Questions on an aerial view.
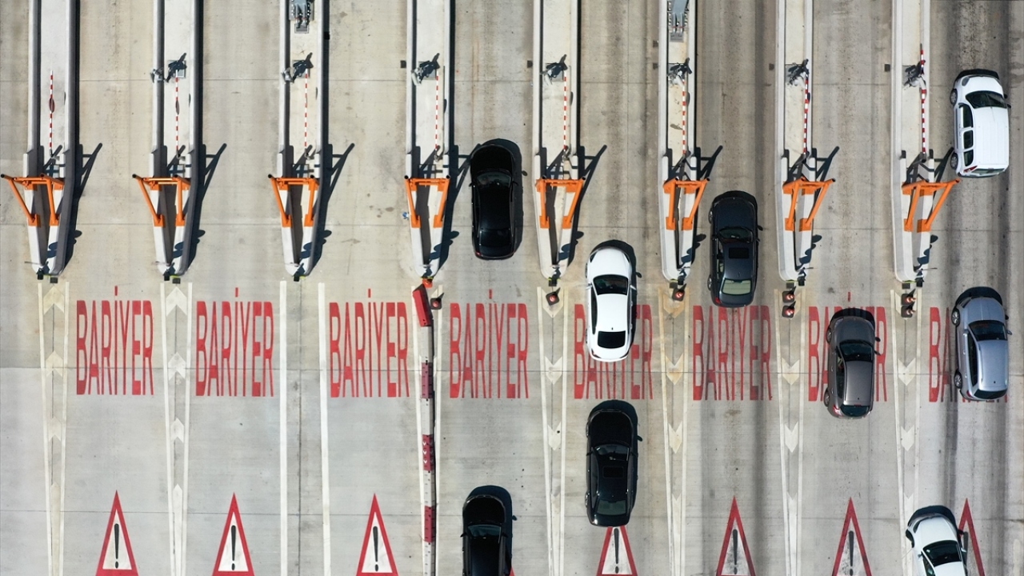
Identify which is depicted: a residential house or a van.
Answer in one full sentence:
This aerial view contains a van.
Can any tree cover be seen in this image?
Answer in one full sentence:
No, tree cover can't be seen anywhere here.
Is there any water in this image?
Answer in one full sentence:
No, the picture contains no water.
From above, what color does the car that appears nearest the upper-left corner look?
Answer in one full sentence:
The color of the car that appears nearest the upper-left corner is black.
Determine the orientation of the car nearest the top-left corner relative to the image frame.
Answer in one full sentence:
The car nearest the top-left corner is oriented from top to bottom.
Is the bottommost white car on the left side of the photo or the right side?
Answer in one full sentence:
The bottommost white car is on the right side of the image.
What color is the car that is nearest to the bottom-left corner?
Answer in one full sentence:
The color of the car that is nearest to the bottom-left corner is black.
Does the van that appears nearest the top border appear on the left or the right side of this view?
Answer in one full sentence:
The van that appears nearest the top border appears in the right half of the scene.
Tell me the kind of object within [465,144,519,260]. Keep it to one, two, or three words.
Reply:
car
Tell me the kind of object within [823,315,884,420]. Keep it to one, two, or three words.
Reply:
car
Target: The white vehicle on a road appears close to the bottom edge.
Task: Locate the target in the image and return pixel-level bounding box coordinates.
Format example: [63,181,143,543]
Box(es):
[906,509,972,576]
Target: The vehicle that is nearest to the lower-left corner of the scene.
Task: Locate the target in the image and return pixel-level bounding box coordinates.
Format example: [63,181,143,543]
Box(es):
[458,494,513,576]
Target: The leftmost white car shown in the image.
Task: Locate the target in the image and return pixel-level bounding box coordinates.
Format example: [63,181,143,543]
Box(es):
[583,245,638,363]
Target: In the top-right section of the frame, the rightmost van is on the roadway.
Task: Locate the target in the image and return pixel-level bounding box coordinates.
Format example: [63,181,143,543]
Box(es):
[948,77,1010,178]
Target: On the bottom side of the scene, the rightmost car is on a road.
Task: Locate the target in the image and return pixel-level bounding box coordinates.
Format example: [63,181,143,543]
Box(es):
[949,295,1011,401]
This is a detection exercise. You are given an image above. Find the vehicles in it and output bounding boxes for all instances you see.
[583,410,638,529]
[583,245,638,363]
[906,509,972,576]
[458,494,513,576]
[708,196,763,307]
[823,315,884,420]
[948,77,1010,178]
[465,144,519,260]
[949,295,1011,401]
